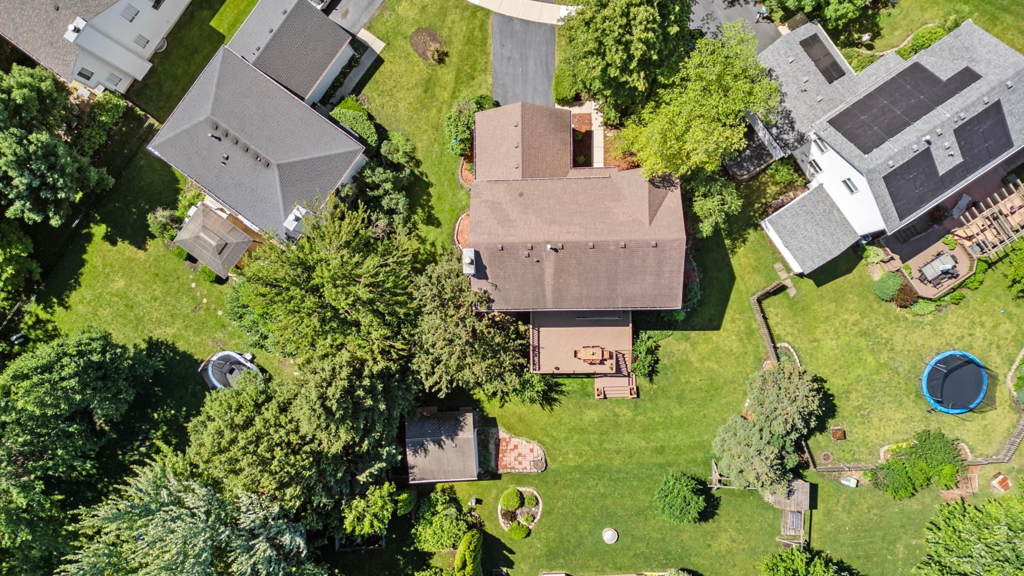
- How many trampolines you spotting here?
2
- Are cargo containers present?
No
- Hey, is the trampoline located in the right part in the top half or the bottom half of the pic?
bottom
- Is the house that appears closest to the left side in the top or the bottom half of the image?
top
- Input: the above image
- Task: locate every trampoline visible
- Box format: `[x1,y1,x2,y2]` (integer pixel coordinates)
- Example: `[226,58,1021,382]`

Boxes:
[915,347,1001,419]
[199,349,268,407]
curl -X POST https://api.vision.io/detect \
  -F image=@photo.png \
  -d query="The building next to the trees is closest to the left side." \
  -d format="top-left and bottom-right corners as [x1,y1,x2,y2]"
[0,0,192,101]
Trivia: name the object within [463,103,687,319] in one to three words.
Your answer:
house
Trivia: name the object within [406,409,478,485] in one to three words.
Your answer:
shed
